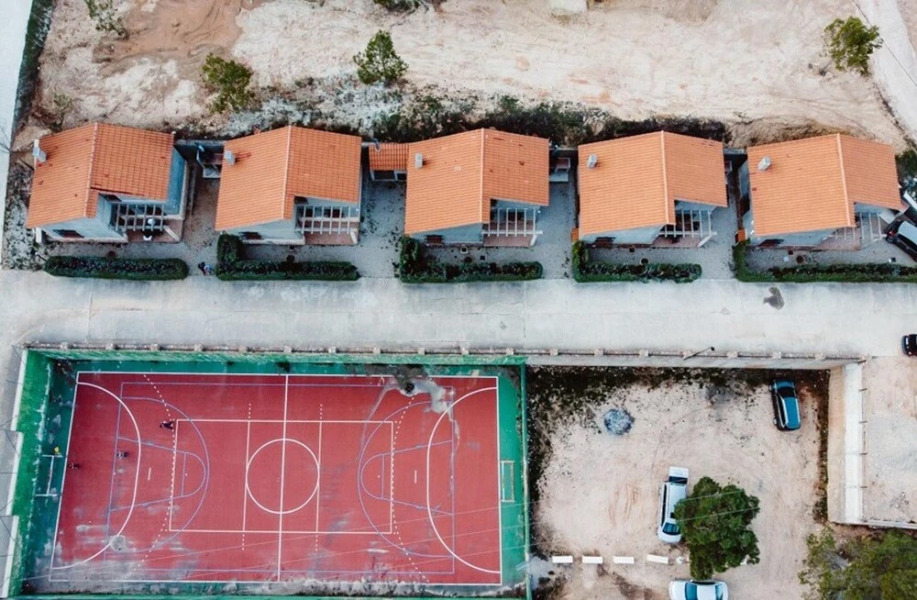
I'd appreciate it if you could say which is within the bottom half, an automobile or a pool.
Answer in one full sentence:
The one visible within the bottom half is an automobile.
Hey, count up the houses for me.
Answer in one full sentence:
The picture shows 5 houses.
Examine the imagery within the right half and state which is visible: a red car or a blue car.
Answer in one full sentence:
What appears within the right half is a blue car.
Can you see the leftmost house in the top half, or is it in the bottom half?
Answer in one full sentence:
You can find the leftmost house in the top half.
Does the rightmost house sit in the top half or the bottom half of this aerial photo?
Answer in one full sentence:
The rightmost house sits in the top half of the picture.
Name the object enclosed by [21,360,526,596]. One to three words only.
sports court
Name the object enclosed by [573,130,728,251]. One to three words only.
house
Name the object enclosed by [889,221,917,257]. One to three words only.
car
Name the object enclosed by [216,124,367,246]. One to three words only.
house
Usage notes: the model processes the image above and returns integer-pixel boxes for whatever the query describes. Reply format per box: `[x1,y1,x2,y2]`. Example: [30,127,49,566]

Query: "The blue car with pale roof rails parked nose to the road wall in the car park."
[770,381,802,432]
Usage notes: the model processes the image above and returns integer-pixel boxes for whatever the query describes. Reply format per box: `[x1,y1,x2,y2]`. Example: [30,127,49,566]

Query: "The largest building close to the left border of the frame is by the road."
[25,122,187,243]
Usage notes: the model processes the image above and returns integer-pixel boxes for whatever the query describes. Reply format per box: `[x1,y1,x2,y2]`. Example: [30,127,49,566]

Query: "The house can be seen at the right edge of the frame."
[734,133,903,253]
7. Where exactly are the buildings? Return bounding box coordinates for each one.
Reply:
[25,122,187,243]
[734,133,903,253]
[406,127,551,250]
[216,124,367,246]
[573,130,728,251]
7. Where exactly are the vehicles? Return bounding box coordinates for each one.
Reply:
[656,468,688,542]
[770,381,802,432]
[889,221,917,257]
[670,579,729,600]
[903,334,917,357]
